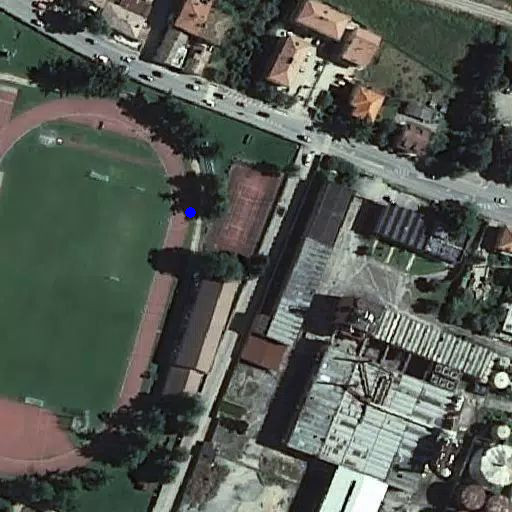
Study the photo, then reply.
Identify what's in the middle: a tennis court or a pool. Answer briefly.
tennis court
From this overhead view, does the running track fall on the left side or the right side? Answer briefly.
left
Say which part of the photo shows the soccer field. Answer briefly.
left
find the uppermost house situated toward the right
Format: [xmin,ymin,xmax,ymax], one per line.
[294,0,352,42]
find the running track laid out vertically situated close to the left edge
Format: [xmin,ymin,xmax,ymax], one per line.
[0,82,188,479]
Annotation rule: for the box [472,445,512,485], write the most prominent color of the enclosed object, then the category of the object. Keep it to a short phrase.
white storage tank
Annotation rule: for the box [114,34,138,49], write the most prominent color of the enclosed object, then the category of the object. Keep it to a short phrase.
white vehicle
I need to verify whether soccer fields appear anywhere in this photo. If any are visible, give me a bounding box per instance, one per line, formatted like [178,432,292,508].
[0,114,170,460]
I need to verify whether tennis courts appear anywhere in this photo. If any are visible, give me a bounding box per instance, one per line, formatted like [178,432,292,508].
[206,164,285,256]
